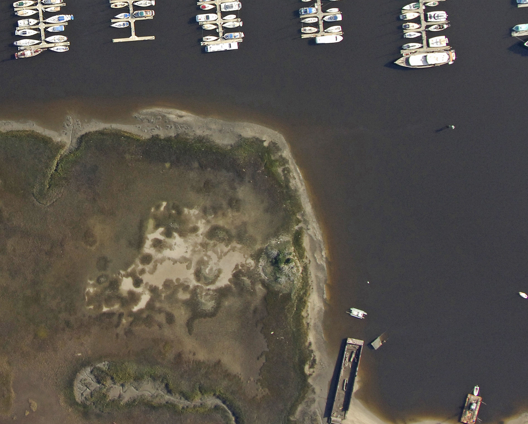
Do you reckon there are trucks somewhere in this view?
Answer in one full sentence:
No, no truck can be seen from above.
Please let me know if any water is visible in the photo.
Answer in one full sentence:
Yes, there's water in this view.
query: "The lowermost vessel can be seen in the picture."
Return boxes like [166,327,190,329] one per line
[460,394,484,424]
